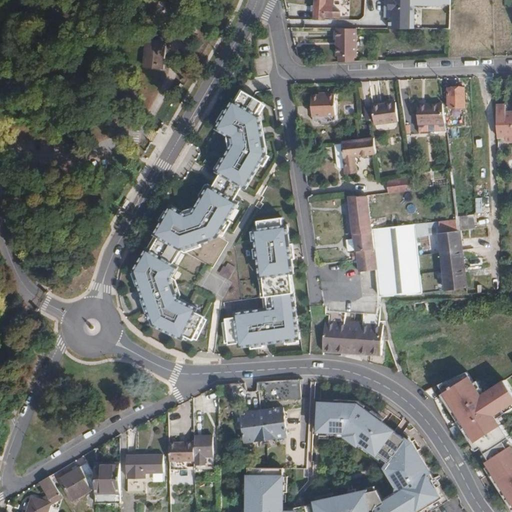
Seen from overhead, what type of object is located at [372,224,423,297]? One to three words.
building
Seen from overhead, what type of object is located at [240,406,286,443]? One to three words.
house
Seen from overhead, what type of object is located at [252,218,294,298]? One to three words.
building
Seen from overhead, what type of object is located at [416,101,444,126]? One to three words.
house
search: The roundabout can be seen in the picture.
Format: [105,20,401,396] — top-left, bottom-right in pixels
[60,296,124,358]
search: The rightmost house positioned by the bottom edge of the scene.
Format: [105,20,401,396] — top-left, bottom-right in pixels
[484,444,512,510]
